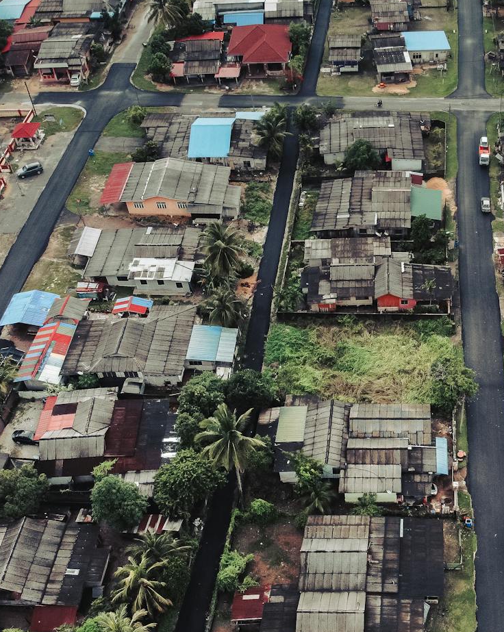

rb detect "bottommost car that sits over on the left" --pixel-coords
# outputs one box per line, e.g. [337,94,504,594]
[7,427,41,445]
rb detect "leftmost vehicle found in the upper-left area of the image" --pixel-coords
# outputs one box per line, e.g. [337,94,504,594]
[16,157,43,175]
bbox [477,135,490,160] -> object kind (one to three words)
vehicle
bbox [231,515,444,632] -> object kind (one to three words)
house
